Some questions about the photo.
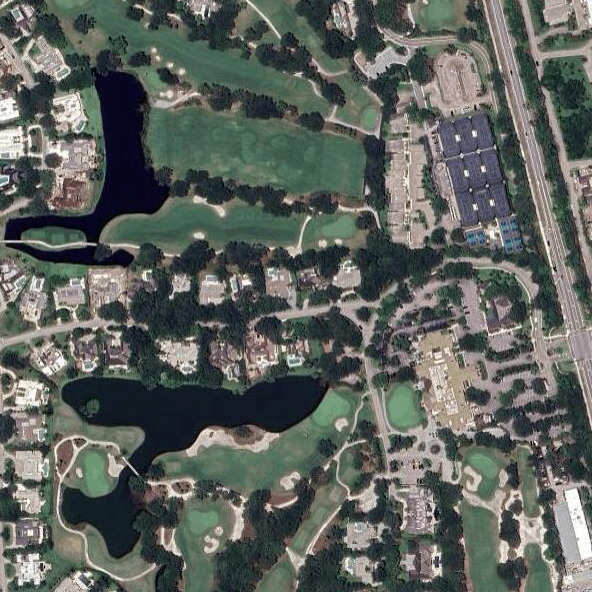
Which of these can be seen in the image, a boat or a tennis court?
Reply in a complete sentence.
The one in the frame is a tennis court.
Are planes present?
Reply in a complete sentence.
No, the scene contains no plane.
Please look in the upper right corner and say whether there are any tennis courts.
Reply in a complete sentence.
Yes, a tennis court shows up in the upper right corner.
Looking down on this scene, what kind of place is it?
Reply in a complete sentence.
The area seen from above is a residential area.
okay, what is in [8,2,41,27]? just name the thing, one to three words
house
